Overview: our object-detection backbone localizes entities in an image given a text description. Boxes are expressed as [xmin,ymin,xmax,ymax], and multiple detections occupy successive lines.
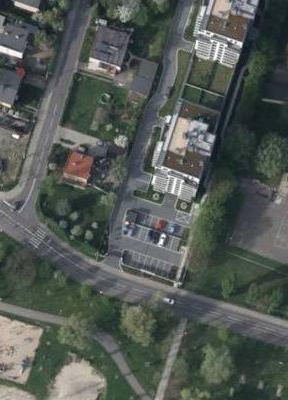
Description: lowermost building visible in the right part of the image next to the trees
[153,99,225,202]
